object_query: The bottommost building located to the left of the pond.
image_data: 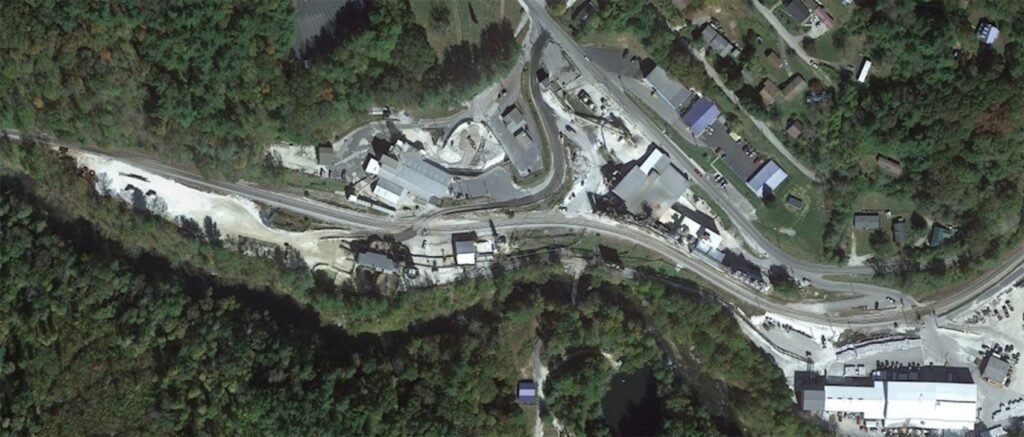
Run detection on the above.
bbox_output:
[519,382,536,404]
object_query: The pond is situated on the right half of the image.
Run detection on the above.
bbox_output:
[601,370,653,437]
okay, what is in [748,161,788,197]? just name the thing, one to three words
building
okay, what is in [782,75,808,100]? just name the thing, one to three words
house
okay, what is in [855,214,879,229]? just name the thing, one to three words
house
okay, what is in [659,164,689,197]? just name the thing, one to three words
building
